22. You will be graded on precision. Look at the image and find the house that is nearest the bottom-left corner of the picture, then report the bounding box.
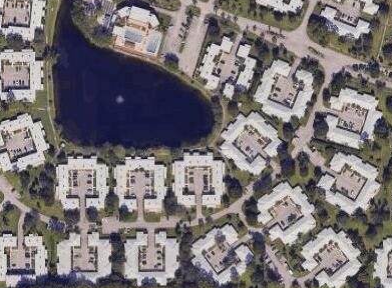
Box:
[0,232,48,287]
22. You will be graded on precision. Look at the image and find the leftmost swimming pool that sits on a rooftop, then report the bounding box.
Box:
[124,26,145,42]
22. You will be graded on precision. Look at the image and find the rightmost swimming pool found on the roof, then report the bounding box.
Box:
[146,30,160,54]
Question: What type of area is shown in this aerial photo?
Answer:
residential area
